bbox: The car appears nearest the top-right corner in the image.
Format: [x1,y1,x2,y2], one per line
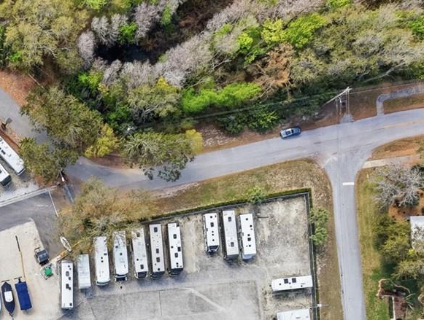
[278,126,300,139]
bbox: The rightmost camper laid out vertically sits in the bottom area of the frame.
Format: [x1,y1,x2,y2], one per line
[236,213,255,262]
